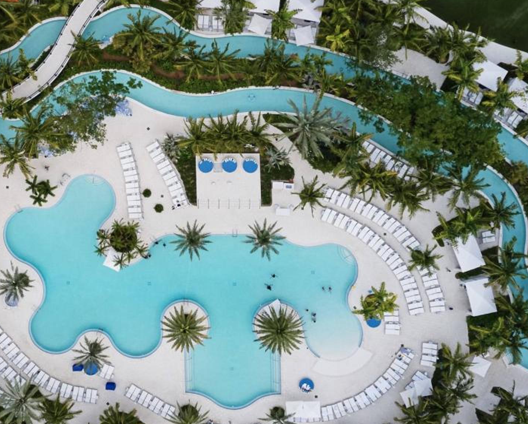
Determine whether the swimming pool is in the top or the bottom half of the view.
bottom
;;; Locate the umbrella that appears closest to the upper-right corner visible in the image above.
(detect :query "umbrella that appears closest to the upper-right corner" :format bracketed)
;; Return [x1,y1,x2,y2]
[293,24,315,47]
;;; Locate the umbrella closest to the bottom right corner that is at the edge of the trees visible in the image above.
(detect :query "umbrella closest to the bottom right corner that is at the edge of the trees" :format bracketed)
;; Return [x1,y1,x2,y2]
[468,352,492,377]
